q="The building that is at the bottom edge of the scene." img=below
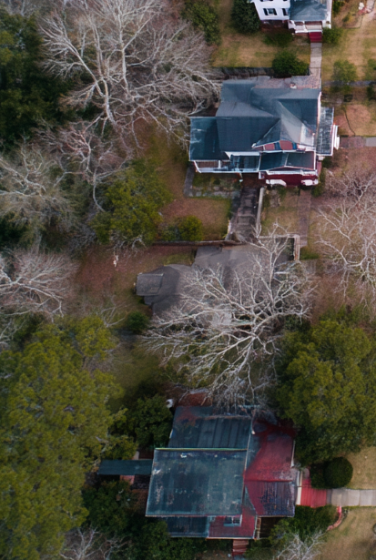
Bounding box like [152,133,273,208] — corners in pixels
[96,393,328,560]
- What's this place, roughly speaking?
residential area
